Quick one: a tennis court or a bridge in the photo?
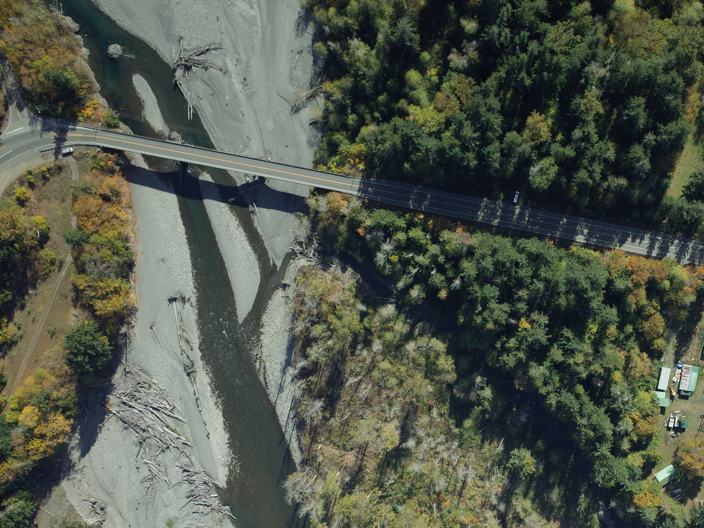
bridge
